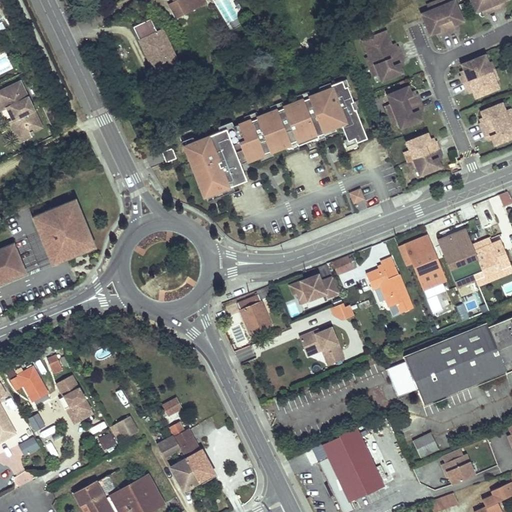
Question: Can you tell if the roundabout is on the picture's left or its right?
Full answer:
It is on the left.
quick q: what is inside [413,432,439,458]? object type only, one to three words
shed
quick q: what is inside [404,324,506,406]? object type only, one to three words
building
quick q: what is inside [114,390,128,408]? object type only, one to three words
vehicle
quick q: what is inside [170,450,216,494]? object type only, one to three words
house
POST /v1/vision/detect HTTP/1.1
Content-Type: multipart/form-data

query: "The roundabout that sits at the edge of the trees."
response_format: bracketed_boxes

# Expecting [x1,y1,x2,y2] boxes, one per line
[110,212,219,322]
